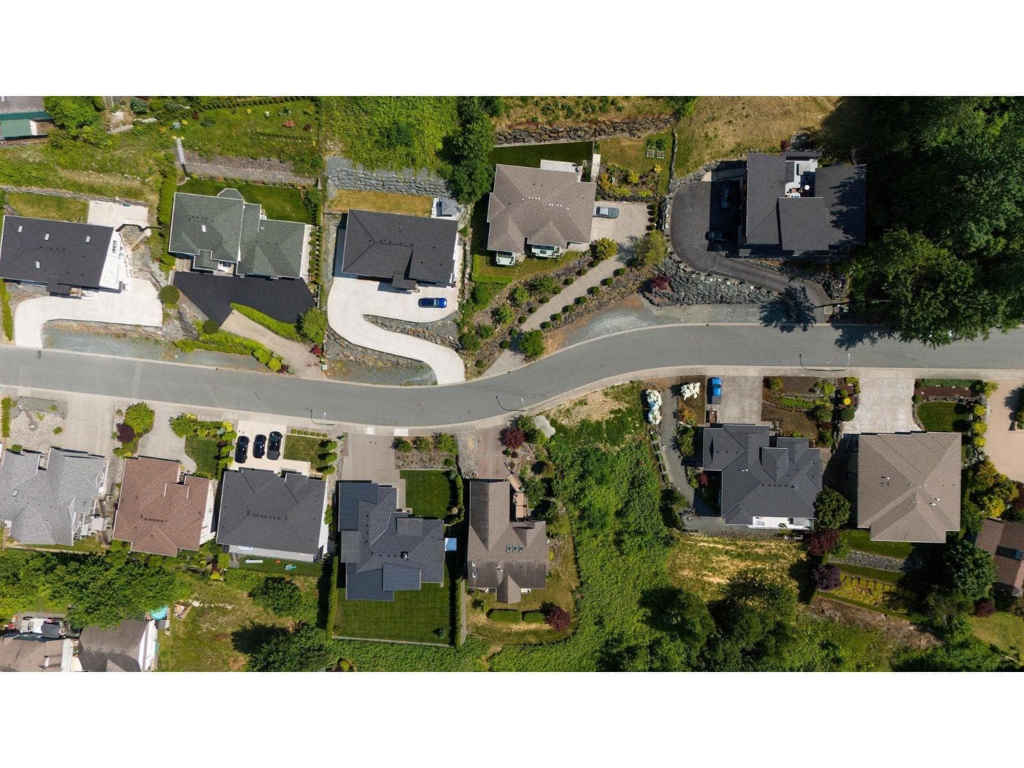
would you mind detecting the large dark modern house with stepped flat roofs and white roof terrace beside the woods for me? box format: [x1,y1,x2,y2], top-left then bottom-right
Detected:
[732,151,867,257]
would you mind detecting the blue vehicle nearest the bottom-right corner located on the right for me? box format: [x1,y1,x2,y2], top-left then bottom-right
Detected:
[711,377,723,405]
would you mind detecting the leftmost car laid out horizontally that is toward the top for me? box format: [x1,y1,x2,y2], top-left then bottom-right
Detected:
[419,295,446,308]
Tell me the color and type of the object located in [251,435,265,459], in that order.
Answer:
black car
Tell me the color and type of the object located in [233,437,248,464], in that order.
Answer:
black car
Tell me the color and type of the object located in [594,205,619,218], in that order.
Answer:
gray vehicle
